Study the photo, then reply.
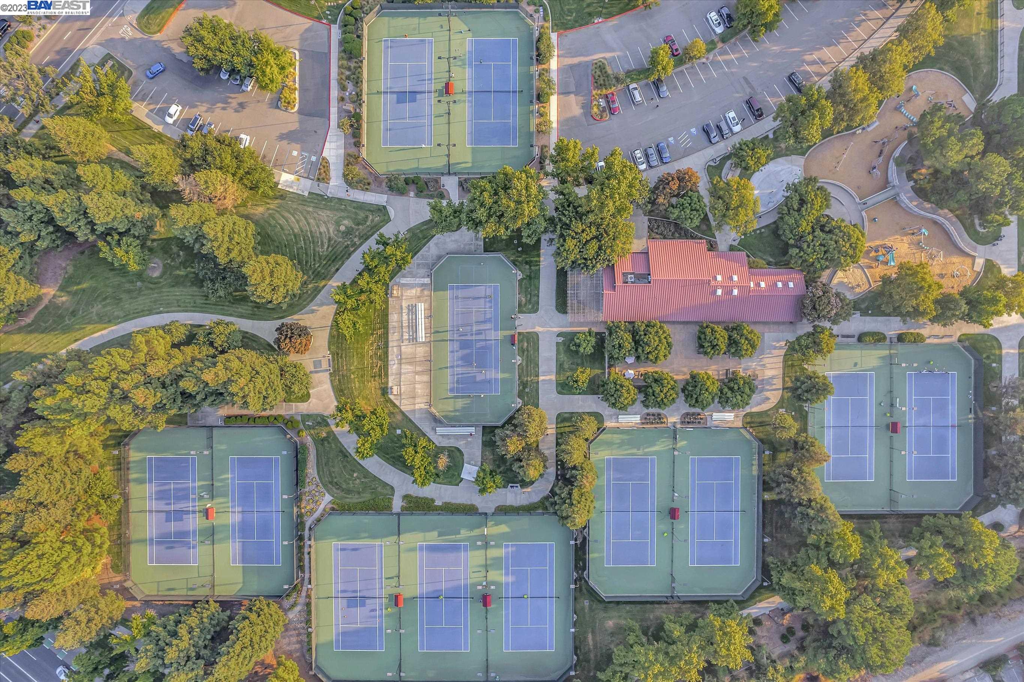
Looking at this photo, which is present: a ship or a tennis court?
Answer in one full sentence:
It is a tennis court that can be seen here.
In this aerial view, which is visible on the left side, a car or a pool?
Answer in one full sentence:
You can see a car on the left side.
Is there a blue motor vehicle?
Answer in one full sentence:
Yes, there's a blue motor vehicle down there.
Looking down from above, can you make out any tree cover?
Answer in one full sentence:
Yes, the picture does contain tree cover.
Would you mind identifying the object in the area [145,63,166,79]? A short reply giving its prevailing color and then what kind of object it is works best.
blue car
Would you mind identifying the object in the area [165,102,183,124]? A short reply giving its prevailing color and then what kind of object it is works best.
white car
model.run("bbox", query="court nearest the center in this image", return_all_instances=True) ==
[431,255,516,424]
